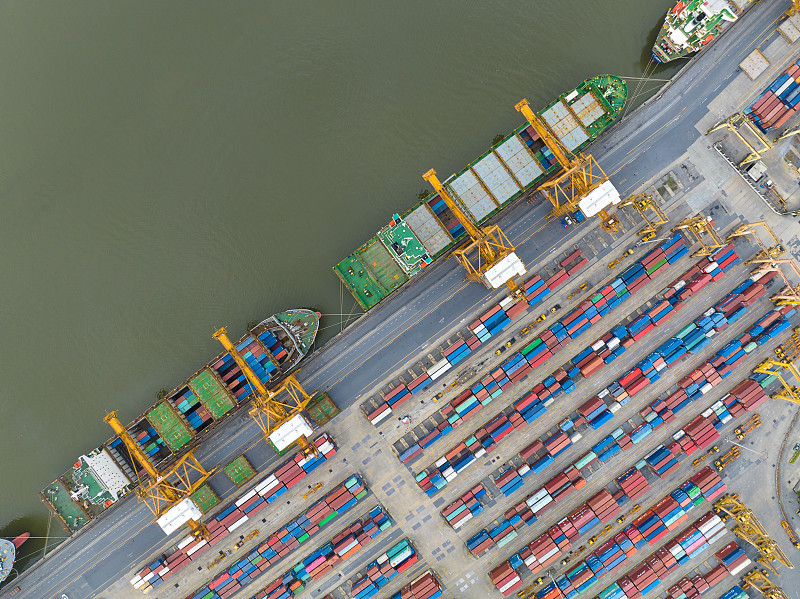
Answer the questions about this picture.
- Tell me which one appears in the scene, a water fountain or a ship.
ship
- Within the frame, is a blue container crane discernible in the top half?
No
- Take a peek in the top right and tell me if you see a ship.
Yes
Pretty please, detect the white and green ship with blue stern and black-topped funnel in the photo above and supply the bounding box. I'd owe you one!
[650,0,755,64]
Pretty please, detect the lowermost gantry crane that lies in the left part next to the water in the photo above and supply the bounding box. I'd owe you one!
[97,406,220,547]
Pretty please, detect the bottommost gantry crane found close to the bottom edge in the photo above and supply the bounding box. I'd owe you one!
[739,567,789,599]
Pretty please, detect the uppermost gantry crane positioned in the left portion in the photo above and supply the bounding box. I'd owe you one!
[207,323,324,464]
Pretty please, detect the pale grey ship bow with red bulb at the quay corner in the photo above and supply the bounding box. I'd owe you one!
[0,537,32,581]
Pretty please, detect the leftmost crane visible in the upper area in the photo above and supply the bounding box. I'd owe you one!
[419,165,530,308]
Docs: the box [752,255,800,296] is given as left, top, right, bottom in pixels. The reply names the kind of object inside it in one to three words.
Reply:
container crane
